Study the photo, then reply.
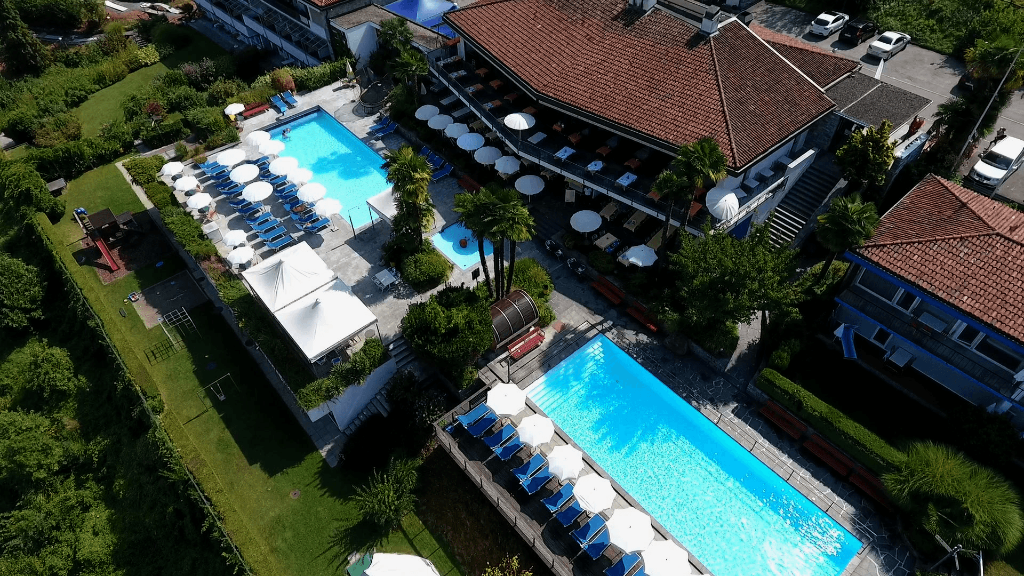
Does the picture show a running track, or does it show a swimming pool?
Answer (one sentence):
Of the two, only a swimming pool appears.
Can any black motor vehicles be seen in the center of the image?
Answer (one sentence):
No, the scene shows no black motor vehicle in the center of the image.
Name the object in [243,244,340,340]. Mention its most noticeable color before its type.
white tent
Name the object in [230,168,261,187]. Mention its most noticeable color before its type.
white umbrella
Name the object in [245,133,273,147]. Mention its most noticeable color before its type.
white umbrella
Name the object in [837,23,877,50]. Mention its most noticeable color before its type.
black car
